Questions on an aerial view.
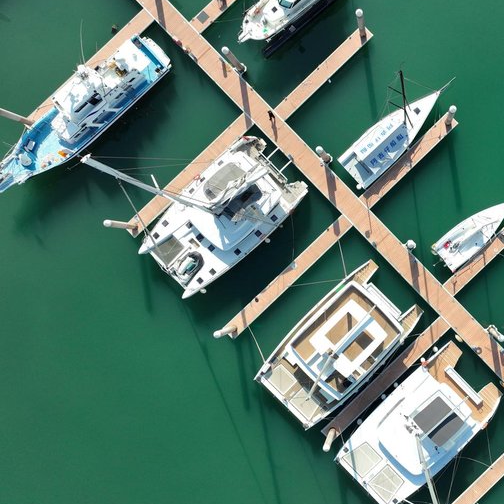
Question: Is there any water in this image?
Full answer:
Yes, the picture does contain water.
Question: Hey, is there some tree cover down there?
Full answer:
No, the scene doesn't show any tree cover.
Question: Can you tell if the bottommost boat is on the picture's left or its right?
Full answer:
It is on the right.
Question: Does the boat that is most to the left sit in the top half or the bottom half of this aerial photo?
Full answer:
You can find the boat that is most to the left in the top half.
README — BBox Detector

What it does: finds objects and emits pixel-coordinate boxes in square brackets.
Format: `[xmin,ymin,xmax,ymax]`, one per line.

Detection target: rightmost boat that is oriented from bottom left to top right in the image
[431,204,504,272]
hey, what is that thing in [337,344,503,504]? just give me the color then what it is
white boat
